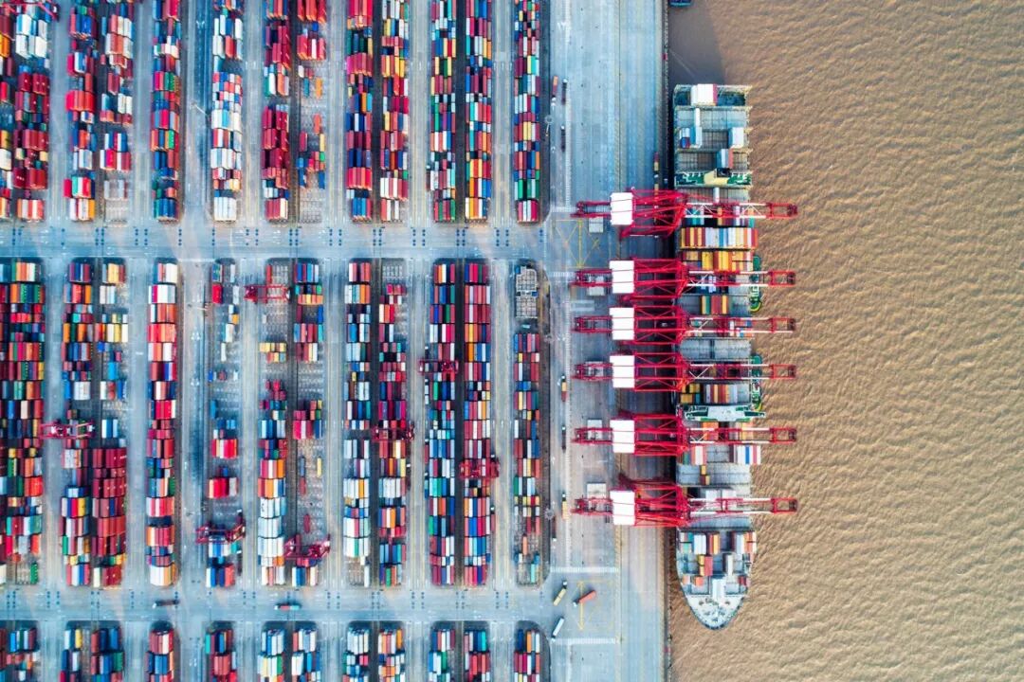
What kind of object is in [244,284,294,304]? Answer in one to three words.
container crane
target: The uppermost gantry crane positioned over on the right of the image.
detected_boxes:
[568,190,794,242]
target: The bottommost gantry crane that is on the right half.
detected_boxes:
[569,475,797,526]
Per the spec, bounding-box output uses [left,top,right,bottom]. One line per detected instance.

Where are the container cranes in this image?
[568,190,794,242]
[459,454,501,475]
[569,409,796,454]
[372,421,417,441]
[569,305,795,349]
[418,359,461,378]
[569,350,796,393]
[197,518,248,541]
[244,284,294,304]
[569,475,797,526]
[568,258,795,305]
[285,536,332,560]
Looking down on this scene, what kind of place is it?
port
